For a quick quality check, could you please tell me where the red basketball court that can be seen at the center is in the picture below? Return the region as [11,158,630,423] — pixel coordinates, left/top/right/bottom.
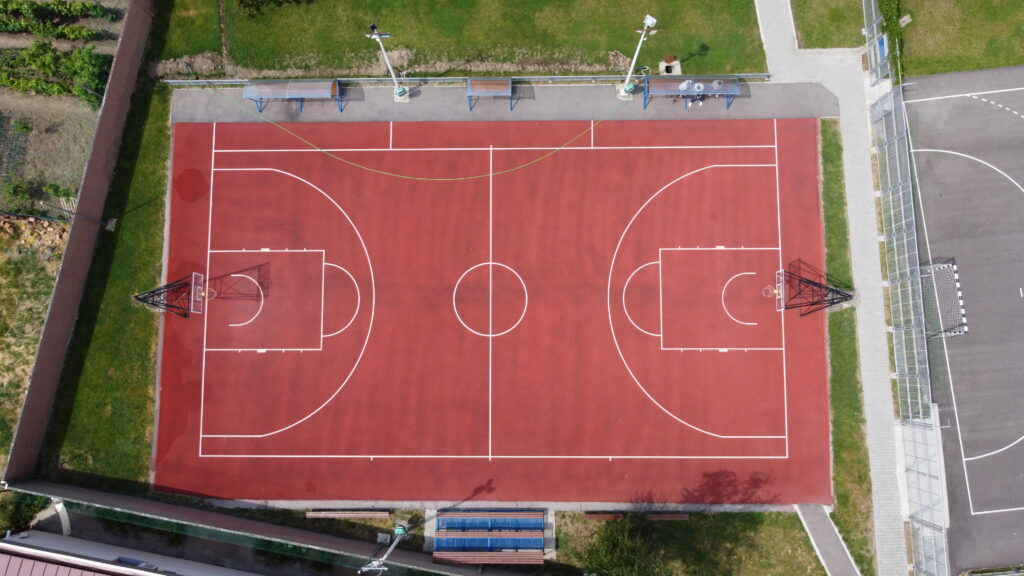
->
[152,118,833,504]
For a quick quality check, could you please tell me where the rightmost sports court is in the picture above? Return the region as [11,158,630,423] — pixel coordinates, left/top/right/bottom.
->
[874,66,1024,576]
